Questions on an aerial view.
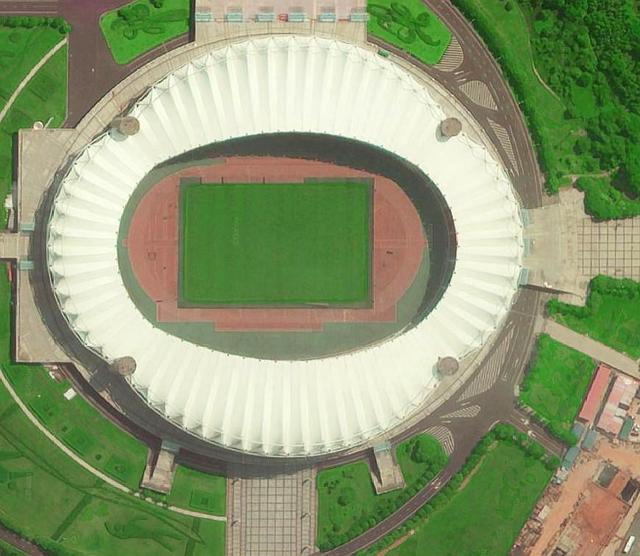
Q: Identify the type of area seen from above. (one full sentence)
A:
This image shows a sports ground.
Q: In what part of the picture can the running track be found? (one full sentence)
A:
The running track is in the center part of the image.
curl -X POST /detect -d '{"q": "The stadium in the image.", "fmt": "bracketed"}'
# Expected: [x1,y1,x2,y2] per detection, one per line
[47,34,523,456]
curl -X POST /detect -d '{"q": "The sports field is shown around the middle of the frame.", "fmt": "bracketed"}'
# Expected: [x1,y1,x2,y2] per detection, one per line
[178,177,374,309]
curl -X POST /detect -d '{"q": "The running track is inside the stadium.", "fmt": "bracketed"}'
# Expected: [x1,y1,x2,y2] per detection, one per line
[121,157,425,332]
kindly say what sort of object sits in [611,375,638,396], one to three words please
shed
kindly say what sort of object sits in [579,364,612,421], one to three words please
building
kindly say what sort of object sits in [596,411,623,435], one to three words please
shed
